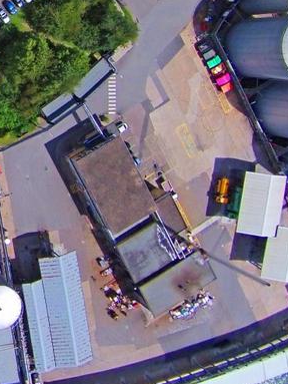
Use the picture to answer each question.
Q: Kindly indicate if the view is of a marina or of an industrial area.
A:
industrial area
